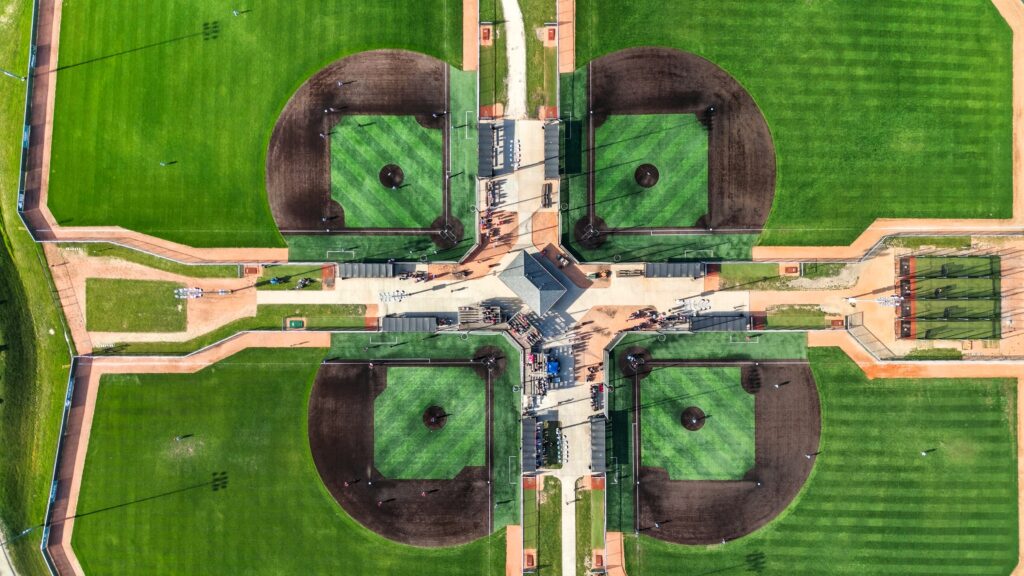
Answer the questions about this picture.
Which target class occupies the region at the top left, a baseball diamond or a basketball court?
baseball diamond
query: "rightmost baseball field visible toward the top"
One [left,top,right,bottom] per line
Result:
[559,0,1024,262]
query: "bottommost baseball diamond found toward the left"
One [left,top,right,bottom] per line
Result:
[47,332,522,576]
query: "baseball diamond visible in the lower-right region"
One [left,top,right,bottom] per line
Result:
[606,331,1024,576]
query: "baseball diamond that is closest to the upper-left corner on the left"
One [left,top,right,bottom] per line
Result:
[24,0,478,263]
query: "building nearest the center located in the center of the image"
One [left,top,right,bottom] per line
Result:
[497,248,567,318]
